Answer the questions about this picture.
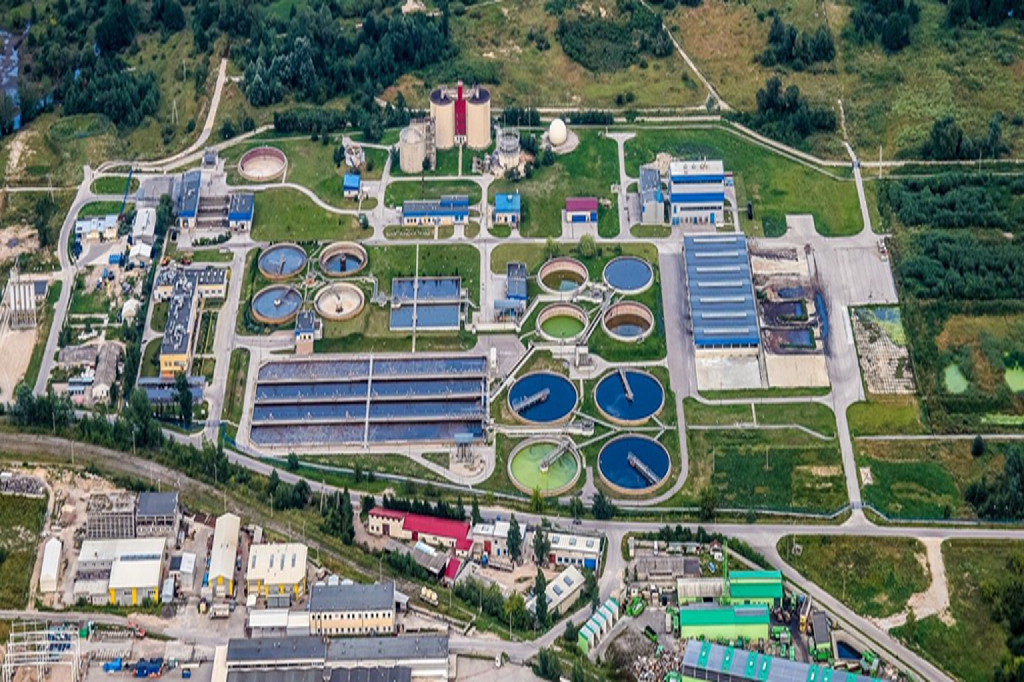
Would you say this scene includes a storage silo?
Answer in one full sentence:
Yes, you can see a storage silo in this photo.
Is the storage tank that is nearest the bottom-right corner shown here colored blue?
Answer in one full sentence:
Yes, blue is the color of the storage tank that is nearest the bottom-right corner.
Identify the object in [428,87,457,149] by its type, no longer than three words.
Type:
silo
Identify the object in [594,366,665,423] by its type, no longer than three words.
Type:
storage tank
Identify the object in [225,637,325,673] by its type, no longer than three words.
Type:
building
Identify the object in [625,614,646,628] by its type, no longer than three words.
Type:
work vehicle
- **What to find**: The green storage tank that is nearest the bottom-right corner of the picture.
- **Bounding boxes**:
[506,433,581,496]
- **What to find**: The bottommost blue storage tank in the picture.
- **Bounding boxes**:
[597,431,672,493]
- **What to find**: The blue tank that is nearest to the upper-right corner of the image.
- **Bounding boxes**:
[602,254,654,294]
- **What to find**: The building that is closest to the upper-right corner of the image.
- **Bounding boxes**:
[666,160,732,225]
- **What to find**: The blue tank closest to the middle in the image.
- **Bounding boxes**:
[507,368,578,425]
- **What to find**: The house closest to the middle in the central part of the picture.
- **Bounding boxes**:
[506,262,526,310]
